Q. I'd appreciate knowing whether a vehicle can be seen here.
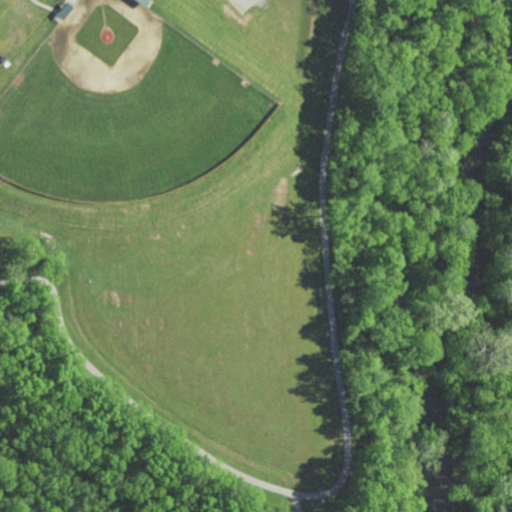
No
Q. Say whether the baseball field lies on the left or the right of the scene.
left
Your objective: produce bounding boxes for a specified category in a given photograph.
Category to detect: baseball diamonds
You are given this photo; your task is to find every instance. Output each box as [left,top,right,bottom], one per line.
[0,0,278,202]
